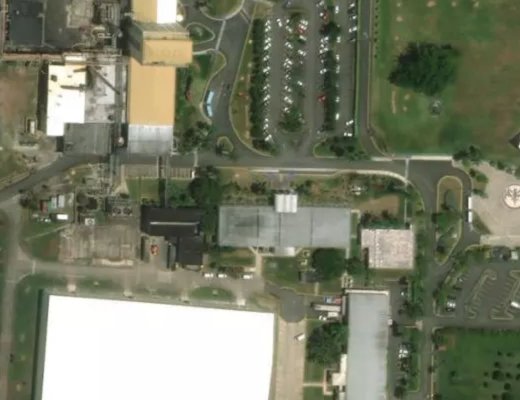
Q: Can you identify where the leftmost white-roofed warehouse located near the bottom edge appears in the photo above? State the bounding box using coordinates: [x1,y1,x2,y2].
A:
[32,289,276,400]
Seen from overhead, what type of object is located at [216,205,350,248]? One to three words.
building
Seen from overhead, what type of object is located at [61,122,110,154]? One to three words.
building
